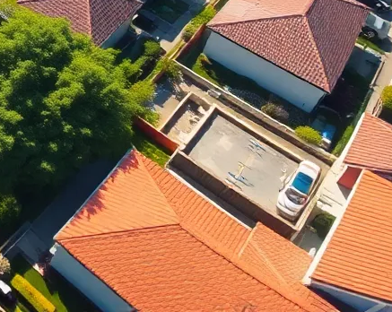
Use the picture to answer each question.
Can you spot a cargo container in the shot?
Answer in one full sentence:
No, I find no cargo container anywhere in the image.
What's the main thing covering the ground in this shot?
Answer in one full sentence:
What you mostly see from above here is buildings.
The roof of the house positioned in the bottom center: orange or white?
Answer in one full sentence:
The roof of the house positioned in the bottom center looks orange in the image.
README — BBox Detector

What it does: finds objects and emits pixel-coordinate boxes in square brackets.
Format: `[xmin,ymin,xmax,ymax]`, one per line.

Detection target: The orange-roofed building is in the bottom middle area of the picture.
[47,146,326,312]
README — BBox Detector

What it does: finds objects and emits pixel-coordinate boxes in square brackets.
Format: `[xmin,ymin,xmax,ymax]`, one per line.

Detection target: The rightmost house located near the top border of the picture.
[200,0,374,111]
